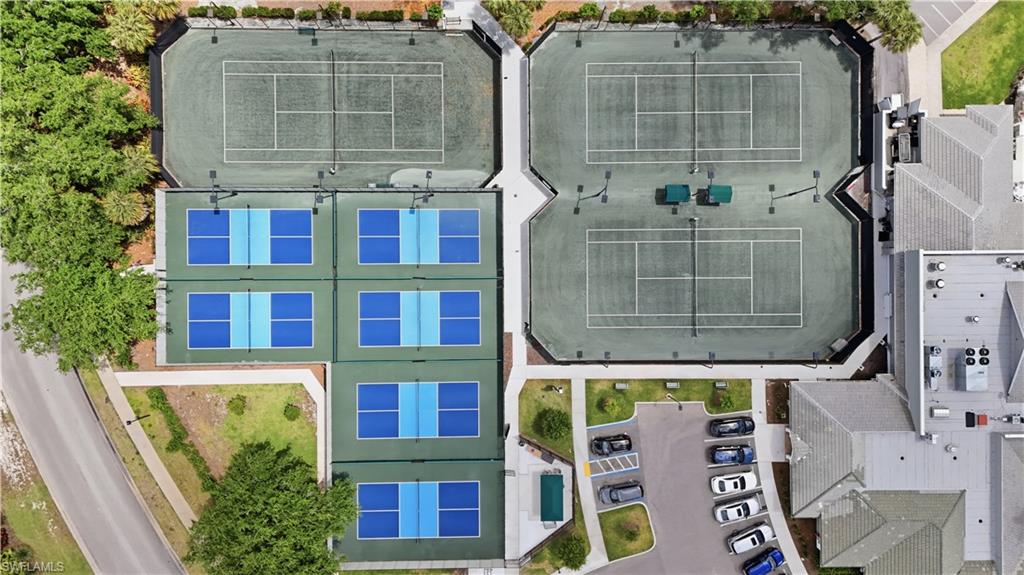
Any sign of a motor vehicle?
Yes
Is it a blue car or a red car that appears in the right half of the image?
blue car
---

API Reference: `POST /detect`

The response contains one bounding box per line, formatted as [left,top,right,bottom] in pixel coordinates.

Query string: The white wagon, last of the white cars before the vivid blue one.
[727,523,773,553]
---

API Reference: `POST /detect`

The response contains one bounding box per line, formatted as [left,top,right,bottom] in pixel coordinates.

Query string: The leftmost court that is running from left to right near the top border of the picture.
[162,28,501,187]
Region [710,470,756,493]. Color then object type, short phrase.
white car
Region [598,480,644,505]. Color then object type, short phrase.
gray car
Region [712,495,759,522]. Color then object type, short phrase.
white car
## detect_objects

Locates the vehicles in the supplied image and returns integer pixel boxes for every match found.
[712,495,759,522]
[727,523,773,553]
[741,545,787,575]
[708,415,753,437]
[708,443,753,465]
[588,432,634,457]
[598,480,644,505]
[710,470,756,493]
